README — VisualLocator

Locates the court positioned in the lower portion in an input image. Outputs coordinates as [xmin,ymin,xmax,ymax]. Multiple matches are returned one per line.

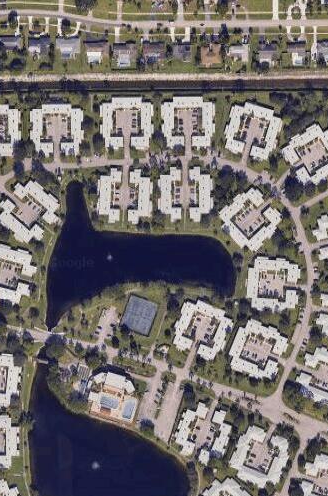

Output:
[121,295,157,336]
